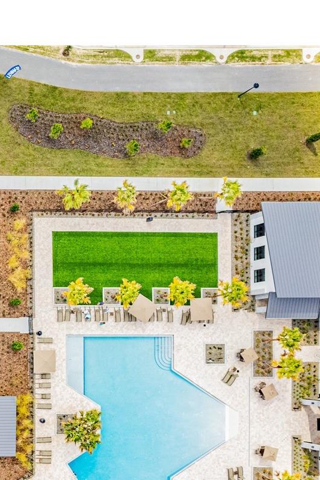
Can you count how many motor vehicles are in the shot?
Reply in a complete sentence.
There are no motor vehicles in the image.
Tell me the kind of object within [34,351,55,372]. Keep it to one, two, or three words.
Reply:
umbrella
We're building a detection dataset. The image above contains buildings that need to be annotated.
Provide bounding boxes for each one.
[251,202,320,318]
[0,396,16,456]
